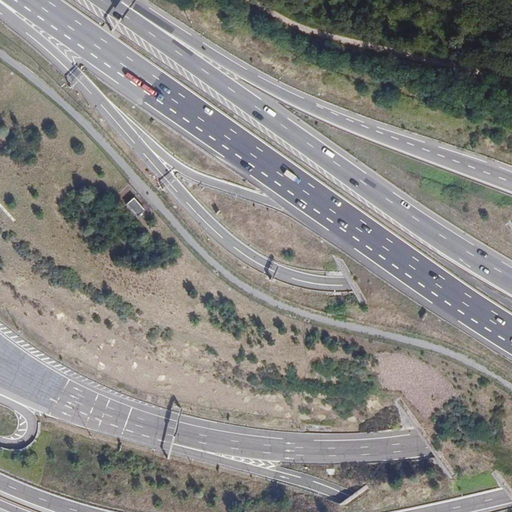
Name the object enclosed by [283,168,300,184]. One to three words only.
vehicle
